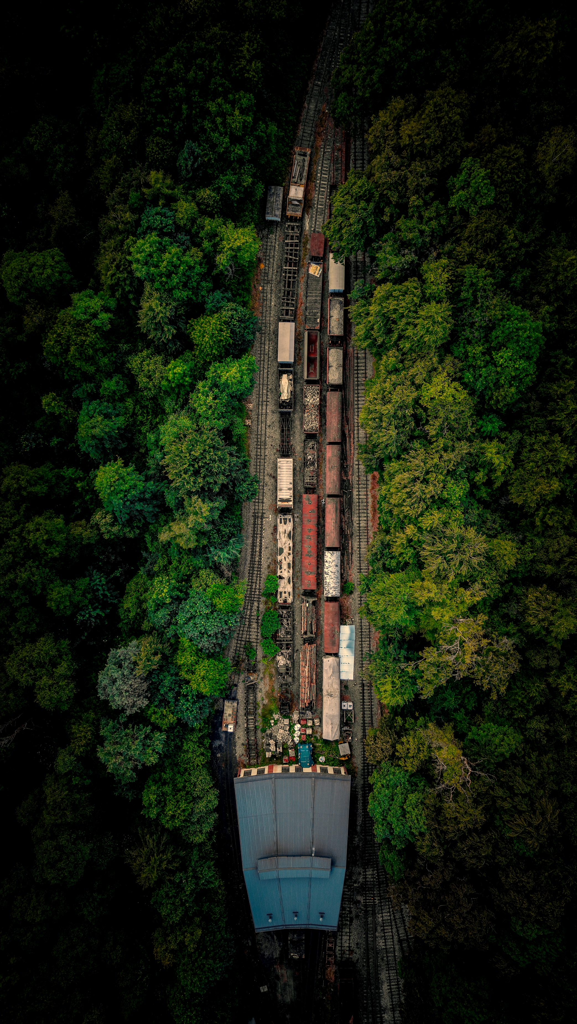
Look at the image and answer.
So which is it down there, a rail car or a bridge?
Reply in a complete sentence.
Looking from above, you can make out a rail car.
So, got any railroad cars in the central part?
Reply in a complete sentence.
Yes, a railroad car can be seen in the central part.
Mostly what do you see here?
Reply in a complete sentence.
The scene is dominated by trees.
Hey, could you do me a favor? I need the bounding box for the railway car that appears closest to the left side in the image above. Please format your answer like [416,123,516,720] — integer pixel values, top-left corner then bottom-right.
[222,697,237,732]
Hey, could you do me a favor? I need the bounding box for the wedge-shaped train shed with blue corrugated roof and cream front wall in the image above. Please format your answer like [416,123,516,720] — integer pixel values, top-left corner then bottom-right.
[233,764,351,933]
